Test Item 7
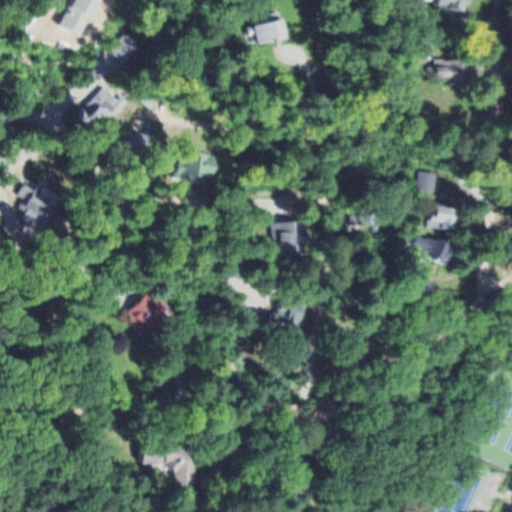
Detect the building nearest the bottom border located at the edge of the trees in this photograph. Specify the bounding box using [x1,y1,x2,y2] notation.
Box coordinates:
[143,449,200,486]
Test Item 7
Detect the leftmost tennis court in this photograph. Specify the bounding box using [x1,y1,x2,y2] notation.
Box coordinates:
[444,474,484,512]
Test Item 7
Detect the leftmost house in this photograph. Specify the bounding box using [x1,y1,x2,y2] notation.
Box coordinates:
[15,182,50,233]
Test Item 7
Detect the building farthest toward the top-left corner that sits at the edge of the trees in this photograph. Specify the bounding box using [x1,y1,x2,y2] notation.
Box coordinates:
[58,0,104,42]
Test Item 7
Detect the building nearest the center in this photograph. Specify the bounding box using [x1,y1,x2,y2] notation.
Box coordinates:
[271,222,302,252]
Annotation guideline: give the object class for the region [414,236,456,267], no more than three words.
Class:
house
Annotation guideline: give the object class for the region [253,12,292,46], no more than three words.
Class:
house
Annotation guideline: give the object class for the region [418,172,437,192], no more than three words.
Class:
building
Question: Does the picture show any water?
No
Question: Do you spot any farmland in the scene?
No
